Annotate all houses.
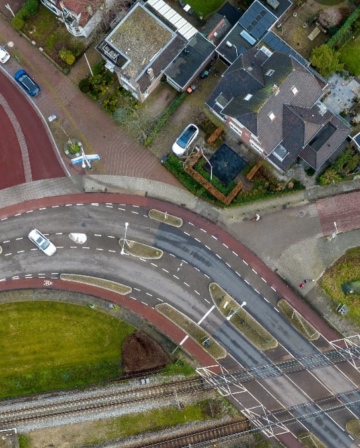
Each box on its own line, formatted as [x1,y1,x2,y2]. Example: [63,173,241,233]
[41,0,127,46]
[95,0,188,103]
[205,41,352,177]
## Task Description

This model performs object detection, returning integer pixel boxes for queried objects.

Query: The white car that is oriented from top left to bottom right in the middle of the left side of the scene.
[27,229,58,256]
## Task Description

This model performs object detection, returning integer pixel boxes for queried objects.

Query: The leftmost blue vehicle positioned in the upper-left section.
[13,69,41,98]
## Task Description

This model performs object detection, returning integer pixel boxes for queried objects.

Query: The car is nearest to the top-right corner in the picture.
[173,124,199,155]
